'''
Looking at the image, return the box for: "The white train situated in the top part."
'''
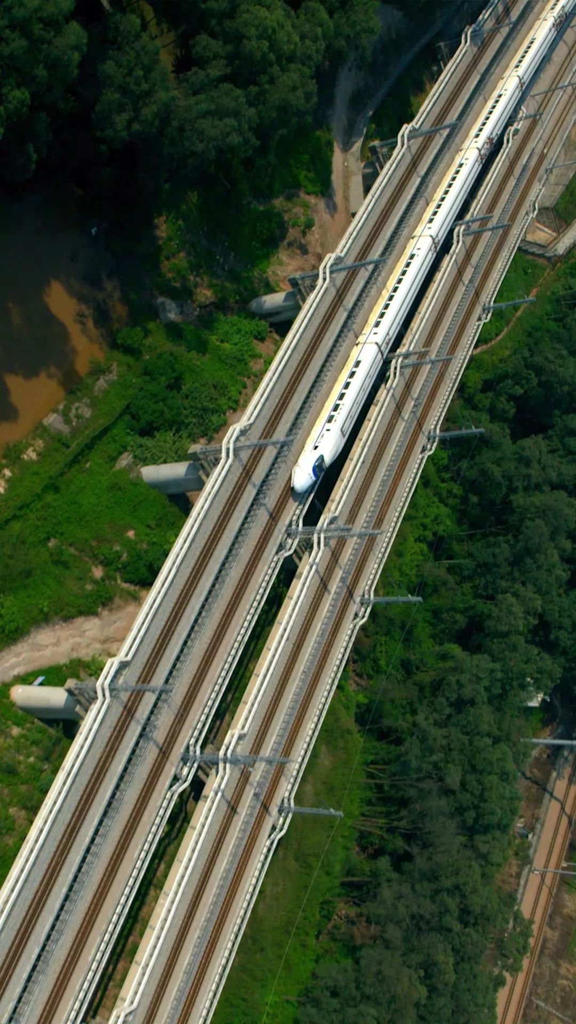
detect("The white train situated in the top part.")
[289,0,570,495]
